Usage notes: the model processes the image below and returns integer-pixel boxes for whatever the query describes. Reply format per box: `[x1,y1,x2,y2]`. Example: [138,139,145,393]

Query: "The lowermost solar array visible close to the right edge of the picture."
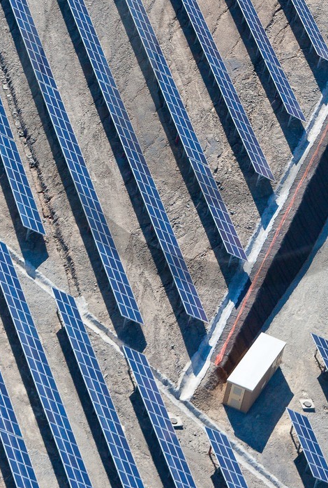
[287,407,328,488]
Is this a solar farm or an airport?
solar farm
